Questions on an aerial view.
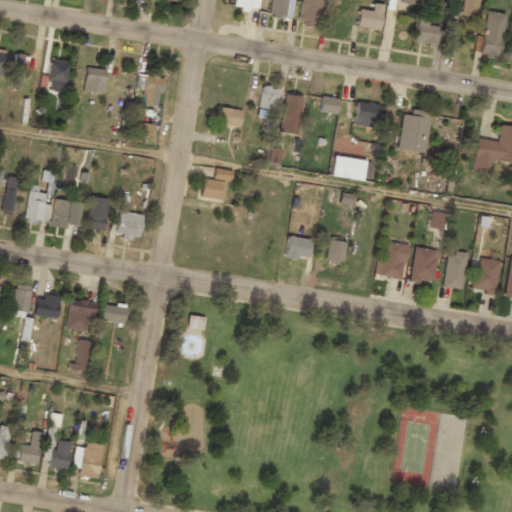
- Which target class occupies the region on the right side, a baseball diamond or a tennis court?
tennis court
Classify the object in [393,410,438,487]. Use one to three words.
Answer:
tennis court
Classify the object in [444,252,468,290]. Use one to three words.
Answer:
house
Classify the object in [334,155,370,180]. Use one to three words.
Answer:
building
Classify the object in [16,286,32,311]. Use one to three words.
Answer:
house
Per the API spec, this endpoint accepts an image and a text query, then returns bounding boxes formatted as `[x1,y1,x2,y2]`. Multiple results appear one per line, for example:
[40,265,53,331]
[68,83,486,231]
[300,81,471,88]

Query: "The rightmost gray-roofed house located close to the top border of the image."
[482,10,508,58]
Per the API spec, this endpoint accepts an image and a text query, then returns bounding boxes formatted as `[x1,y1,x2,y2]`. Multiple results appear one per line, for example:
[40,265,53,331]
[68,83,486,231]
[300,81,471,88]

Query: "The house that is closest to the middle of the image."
[287,236,313,259]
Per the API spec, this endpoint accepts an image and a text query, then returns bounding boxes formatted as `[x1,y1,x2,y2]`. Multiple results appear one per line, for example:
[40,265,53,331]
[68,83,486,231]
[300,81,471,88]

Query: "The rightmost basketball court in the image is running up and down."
[430,414,466,491]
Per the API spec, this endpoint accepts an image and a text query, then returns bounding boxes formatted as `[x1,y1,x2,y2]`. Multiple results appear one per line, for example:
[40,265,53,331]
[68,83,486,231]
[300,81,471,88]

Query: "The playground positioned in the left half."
[160,404,205,459]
